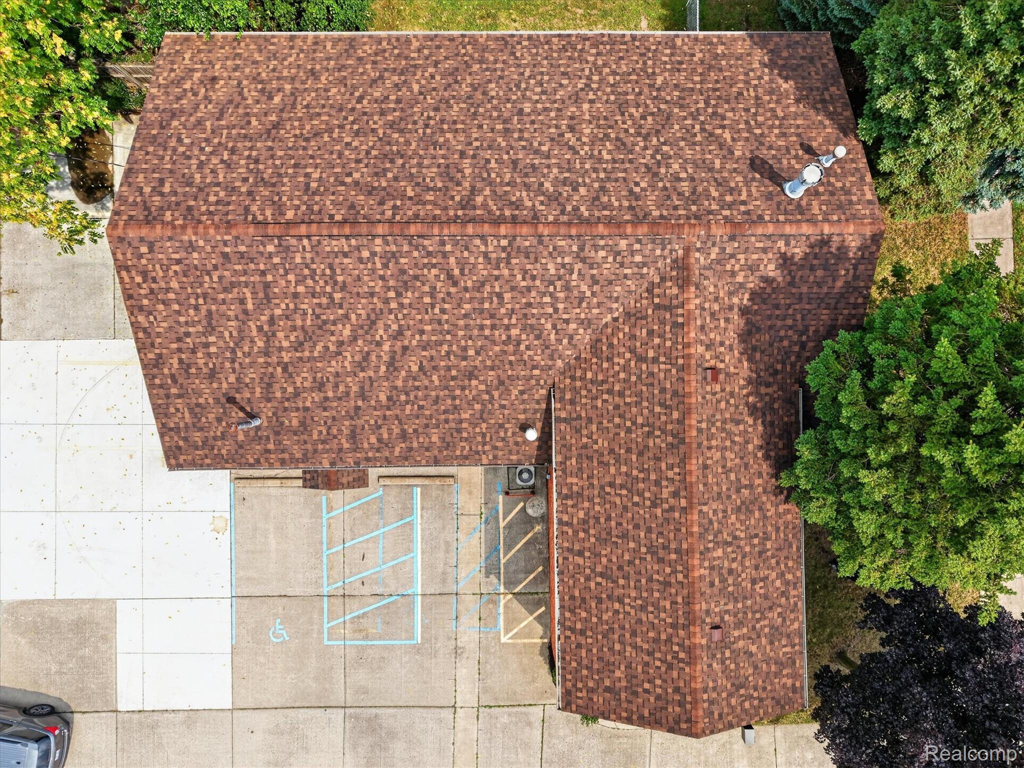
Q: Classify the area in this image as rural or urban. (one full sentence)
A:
It looks urban.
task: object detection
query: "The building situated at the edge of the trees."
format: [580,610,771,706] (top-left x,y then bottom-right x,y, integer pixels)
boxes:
[105,30,885,744]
